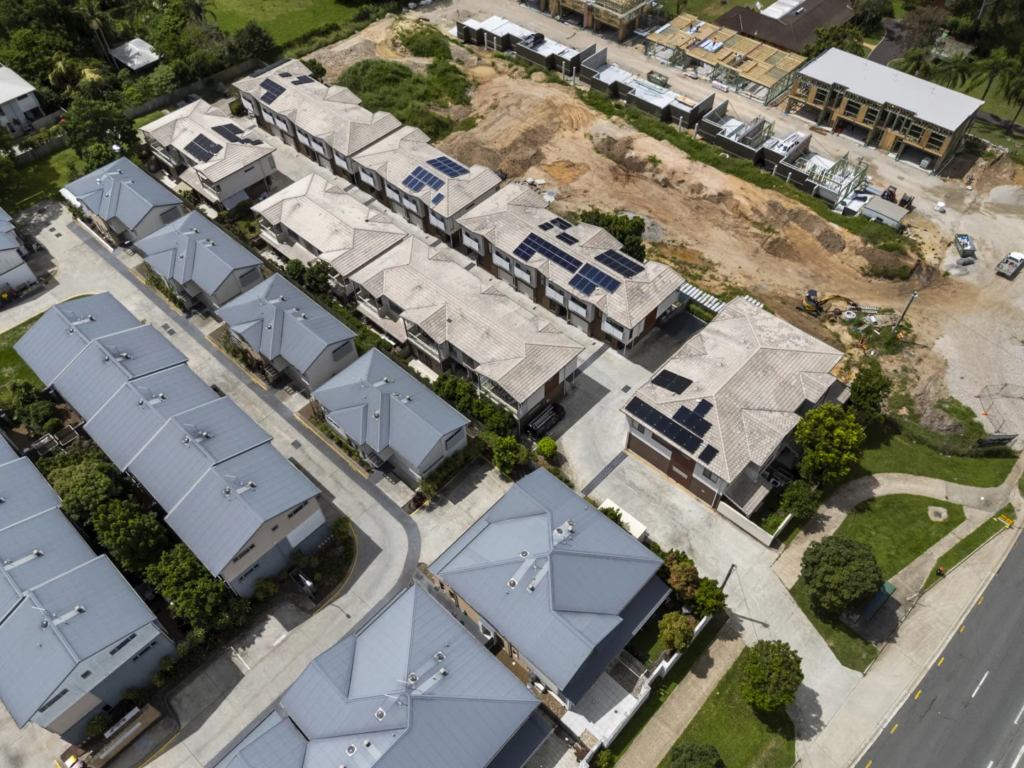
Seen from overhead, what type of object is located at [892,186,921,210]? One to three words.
work vehicle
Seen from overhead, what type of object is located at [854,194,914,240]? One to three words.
shed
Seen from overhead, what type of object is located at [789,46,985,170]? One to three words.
building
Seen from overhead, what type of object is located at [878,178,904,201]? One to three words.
work vehicle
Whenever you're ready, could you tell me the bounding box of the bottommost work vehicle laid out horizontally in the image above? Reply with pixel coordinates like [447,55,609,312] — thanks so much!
[800,290,862,317]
